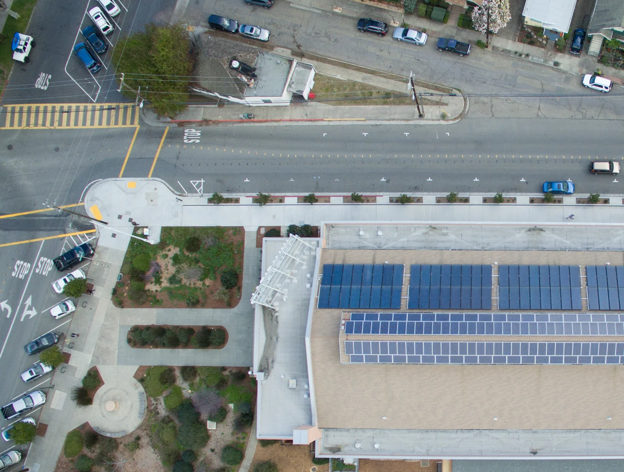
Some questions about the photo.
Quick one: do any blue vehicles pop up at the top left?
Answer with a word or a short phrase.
Yes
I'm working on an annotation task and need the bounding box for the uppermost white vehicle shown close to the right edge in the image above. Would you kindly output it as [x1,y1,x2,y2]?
[582,74,614,93]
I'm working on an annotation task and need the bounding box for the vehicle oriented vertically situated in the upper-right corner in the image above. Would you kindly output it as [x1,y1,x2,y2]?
[571,27,586,56]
